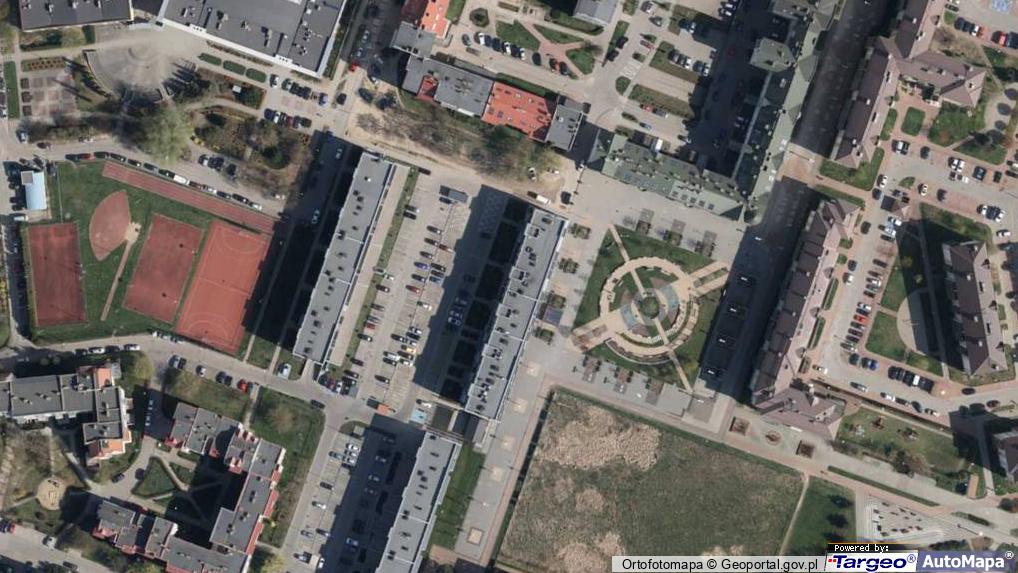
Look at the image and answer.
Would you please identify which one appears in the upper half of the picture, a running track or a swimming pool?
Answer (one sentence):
What appears in the upper half of the picture is a running track.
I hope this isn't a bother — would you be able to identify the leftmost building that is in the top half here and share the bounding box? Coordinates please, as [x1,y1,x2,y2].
[21,171,50,211]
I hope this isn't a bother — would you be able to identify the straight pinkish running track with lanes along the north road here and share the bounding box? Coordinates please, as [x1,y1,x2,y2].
[101,160,276,235]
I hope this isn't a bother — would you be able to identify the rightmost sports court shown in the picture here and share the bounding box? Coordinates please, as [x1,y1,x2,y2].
[175,221,271,357]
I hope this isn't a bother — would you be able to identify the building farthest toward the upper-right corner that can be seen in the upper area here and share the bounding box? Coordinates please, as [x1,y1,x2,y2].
[834,0,985,170]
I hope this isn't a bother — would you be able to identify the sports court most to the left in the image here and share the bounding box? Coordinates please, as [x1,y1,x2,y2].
[28,222,86,326]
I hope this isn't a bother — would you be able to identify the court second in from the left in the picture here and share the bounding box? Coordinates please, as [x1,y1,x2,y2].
[122,212,204,324]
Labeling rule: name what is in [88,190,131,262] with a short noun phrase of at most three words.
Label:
sports field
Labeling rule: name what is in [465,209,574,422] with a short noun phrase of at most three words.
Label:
building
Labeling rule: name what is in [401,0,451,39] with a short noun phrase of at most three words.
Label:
house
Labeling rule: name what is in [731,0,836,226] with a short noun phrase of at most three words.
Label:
house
